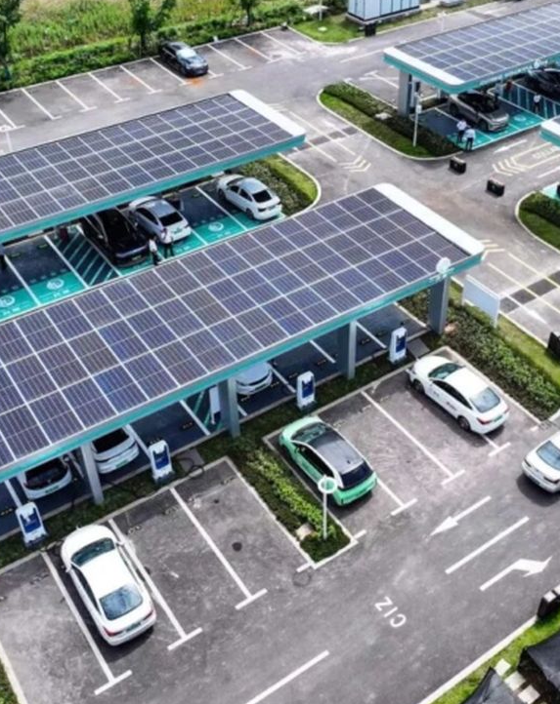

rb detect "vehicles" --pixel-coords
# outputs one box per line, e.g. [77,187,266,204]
[408,353,511,435]
[518,69,560,105]
[87,429,139,474]
[443,89,507,130]
[158,41,208,76]
[214,173,281,222]
[18,459,71,499]
[58,522,156,649]
[80,208,148,268]
[132,196,194,245]
[234,365,273,396]
[284,419,378,509]
[523,432,560,497]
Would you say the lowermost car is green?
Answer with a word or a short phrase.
No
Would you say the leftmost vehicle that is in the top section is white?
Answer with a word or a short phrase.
No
